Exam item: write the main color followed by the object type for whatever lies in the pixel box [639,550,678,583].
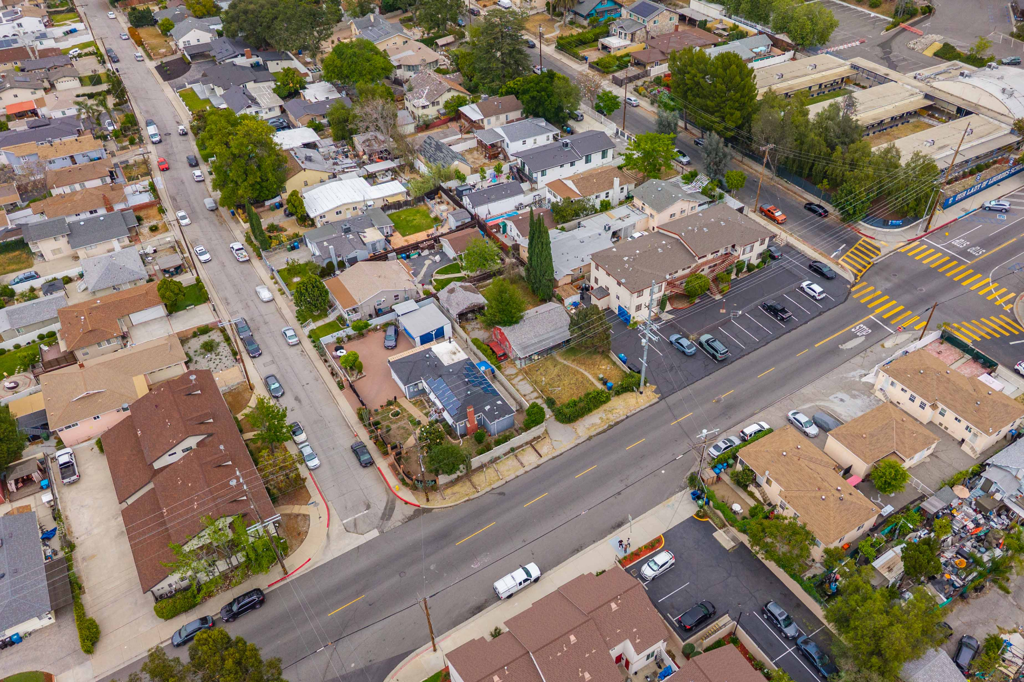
white car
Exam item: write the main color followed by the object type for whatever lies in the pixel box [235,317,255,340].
gray car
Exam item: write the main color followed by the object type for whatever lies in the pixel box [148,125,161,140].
white vehicle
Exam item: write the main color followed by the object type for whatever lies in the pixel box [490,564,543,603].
white truck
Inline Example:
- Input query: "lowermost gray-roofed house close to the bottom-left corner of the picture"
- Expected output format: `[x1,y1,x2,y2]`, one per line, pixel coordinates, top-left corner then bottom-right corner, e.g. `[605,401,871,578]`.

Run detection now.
[0,507,81,652]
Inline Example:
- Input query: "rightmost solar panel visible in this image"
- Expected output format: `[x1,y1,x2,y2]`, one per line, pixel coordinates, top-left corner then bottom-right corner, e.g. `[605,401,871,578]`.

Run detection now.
[630,1,658,16]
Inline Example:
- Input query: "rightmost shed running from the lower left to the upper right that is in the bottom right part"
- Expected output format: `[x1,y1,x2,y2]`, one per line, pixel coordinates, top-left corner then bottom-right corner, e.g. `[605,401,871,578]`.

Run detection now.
[920,488,958,519]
